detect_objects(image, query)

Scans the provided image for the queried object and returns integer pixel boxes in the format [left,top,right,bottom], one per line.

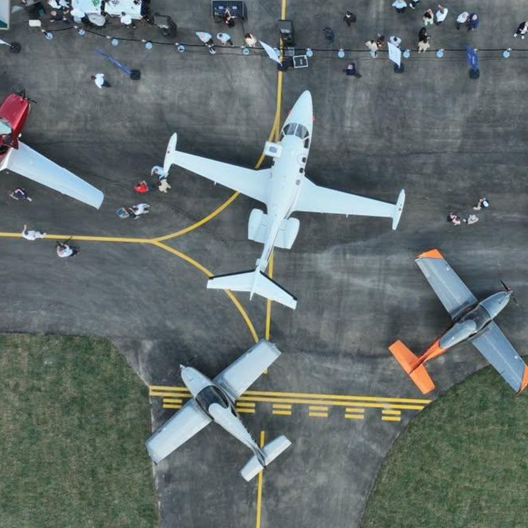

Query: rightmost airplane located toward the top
[164,89,405,309]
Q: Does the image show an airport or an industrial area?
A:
airport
